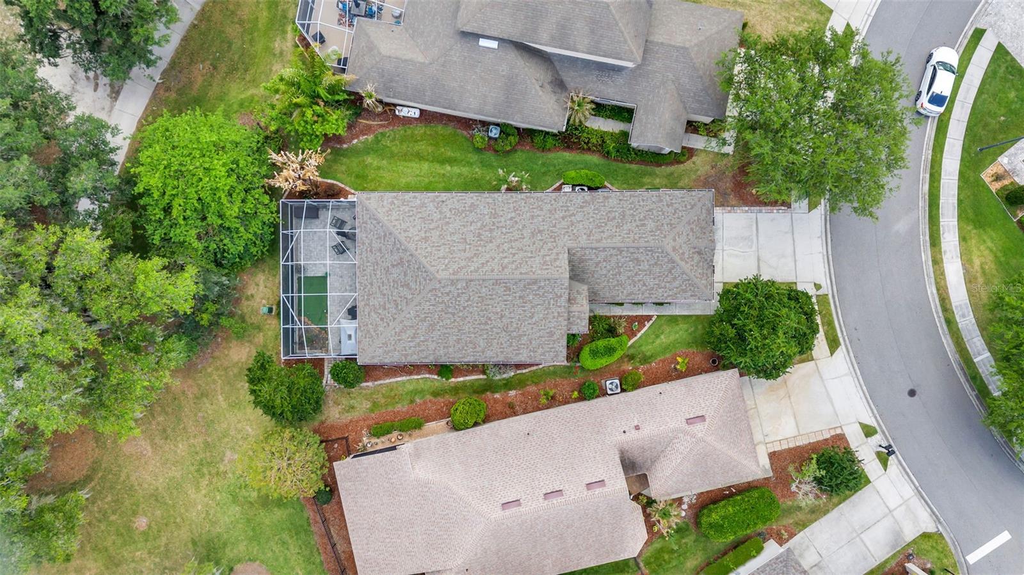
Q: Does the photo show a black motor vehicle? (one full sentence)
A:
No, the picture doesn't show any black motor vehicle.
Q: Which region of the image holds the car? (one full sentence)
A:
The car appears toward the top right of the photo.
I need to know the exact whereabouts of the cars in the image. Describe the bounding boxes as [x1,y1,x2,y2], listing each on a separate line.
[912,45,960,119]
